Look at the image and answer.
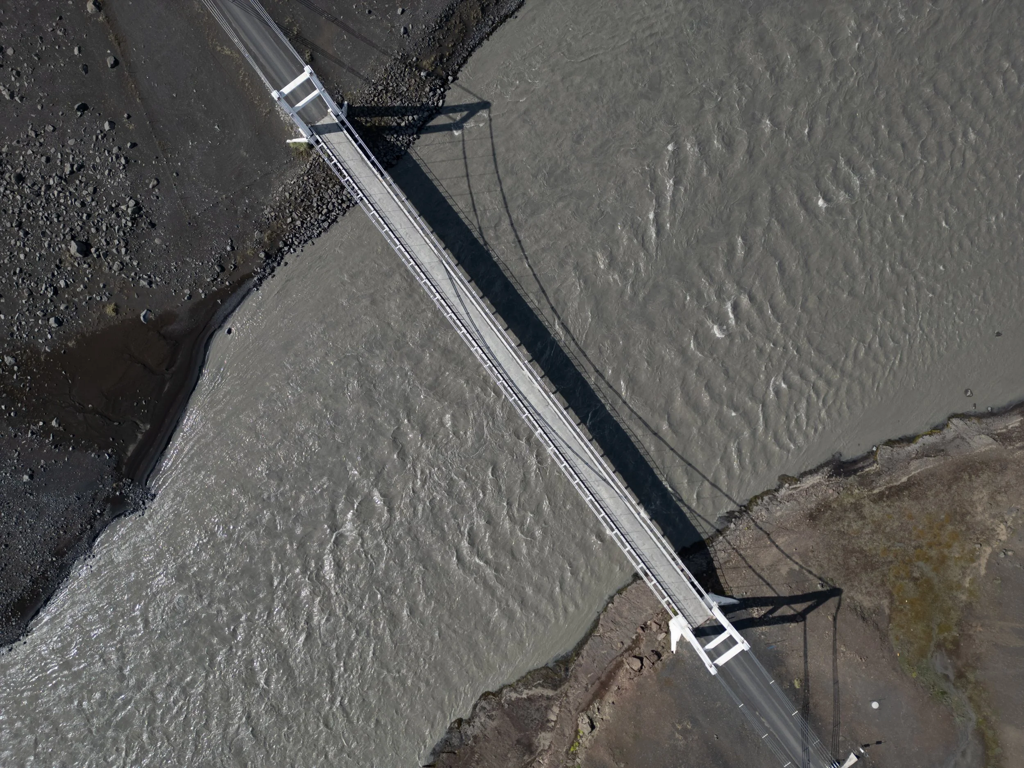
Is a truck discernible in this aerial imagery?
No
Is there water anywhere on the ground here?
Yes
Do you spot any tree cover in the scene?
No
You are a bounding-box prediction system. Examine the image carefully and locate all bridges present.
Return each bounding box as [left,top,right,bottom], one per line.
[201,0,844,768]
